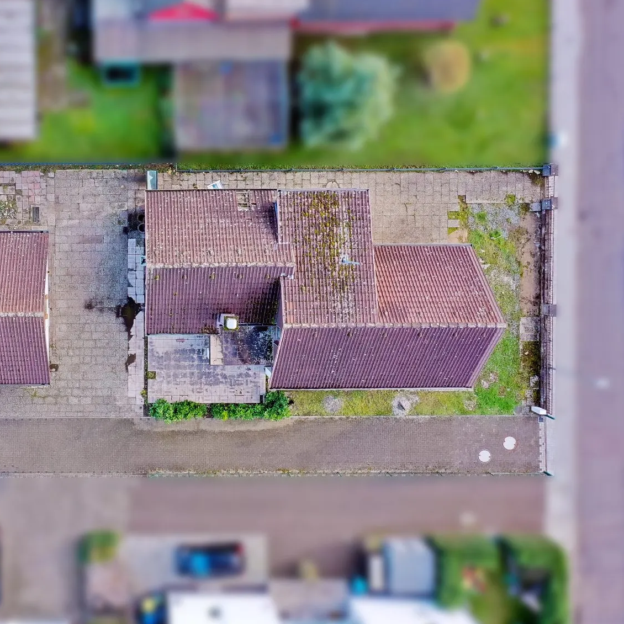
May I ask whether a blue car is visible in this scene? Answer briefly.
Yes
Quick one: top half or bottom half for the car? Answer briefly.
bottom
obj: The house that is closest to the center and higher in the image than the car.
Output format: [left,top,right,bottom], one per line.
[145,187,508,393]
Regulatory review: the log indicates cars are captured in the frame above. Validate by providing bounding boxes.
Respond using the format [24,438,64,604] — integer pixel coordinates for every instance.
[176,542,245,586]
